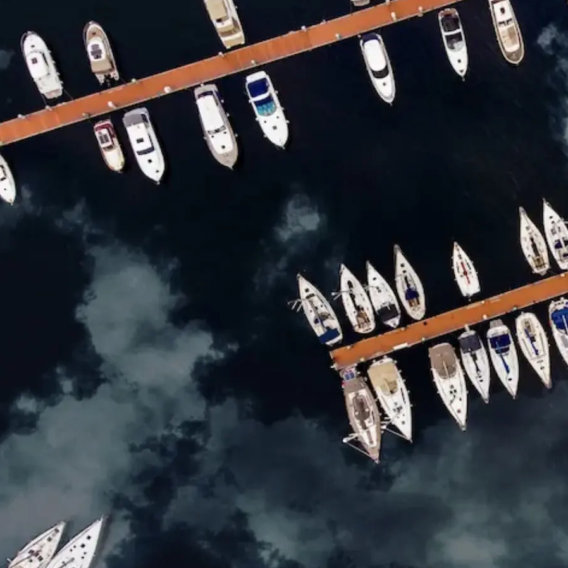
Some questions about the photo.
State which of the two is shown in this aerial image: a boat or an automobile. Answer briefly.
boat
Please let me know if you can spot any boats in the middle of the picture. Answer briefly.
Yes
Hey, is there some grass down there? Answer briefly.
No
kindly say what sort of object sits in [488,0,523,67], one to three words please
boat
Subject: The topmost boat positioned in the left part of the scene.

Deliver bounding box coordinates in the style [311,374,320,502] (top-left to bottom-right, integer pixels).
[206,0,245,50]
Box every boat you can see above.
[206,0,245,50]
[392,242,425,321]
[24,29,64,101]
[450,239,480,299]
[427,341,472,434]
[361,32,394,107]
[354,0,371,8]
[342,376,386,465]
[517,204,549,276]
[540,196,568,270]
[459,330,491,407]
[87,19,122,85]
[126,108,165,187]
[548,298,568,370]
[42,512,109,568]
[487,318,522,402]
[488,0,523,67]
[202,83,242,173]
[440,8,467,85]
[372,358,418,445]
[335,261,373,334]
[291,271,340,348]
[362,258,399,329]
[247,71,290,152]
[95,119,126,175]
[516,312,553,392]
[341,367,358,385]
[2,519,68,568]
[0,155,17,206]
